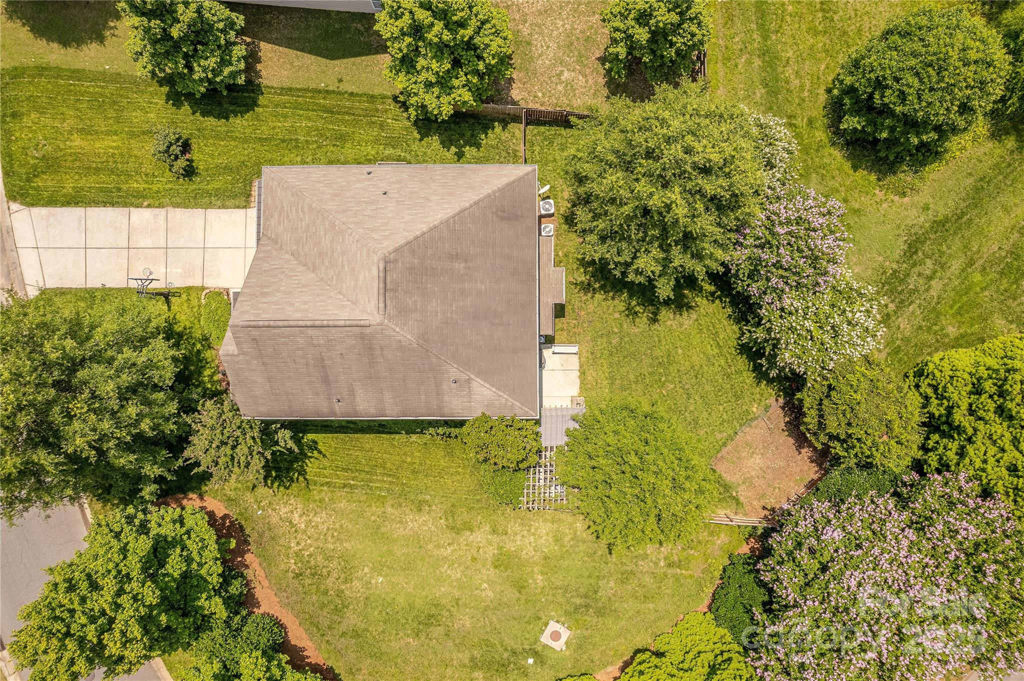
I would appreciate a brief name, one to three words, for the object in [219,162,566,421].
house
